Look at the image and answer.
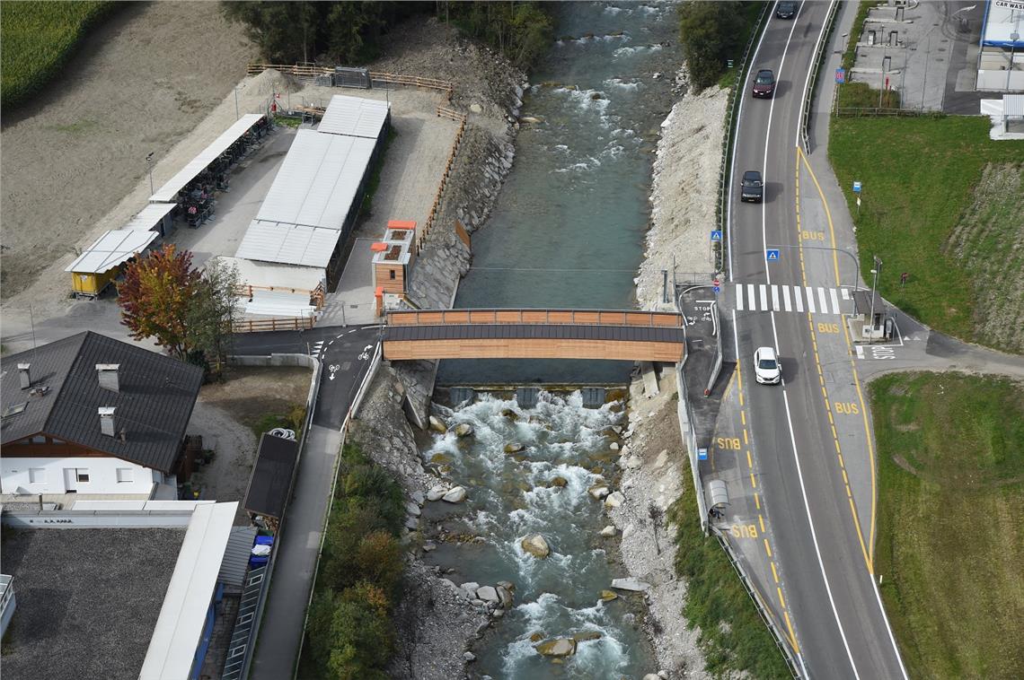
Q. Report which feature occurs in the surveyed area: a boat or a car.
car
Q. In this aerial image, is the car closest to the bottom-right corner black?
No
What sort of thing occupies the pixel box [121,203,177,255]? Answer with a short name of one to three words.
shed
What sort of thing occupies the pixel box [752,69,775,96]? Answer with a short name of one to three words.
car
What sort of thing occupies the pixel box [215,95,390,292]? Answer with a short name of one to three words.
building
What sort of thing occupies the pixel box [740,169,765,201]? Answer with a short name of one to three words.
car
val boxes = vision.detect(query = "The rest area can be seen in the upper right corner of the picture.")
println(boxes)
[846,4,912,85]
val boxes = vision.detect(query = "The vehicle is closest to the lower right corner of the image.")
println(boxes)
[754,347,784,386]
